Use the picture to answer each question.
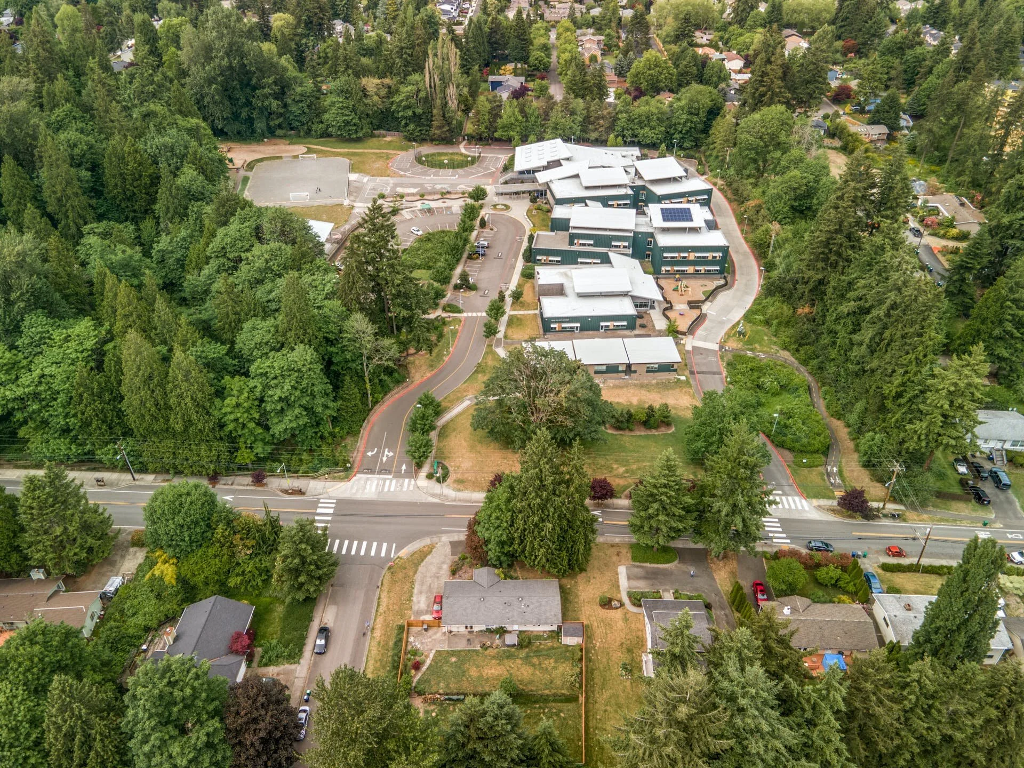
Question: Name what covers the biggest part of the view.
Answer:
trees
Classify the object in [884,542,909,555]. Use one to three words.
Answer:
vehicle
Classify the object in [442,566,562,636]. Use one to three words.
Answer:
house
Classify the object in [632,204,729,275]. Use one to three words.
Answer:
building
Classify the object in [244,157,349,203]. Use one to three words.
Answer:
sports field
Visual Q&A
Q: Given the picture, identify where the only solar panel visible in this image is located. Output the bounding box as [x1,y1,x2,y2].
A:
[660,207,694,221]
